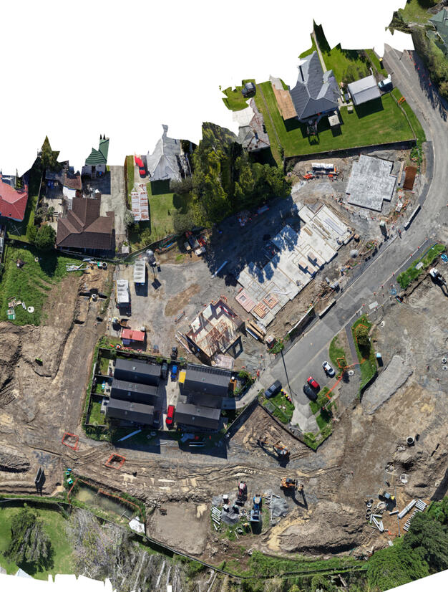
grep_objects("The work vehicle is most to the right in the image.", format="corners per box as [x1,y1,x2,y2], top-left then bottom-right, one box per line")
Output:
[427,266,448,287]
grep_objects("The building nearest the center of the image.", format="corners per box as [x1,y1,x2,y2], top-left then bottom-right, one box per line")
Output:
[185,300,244,358]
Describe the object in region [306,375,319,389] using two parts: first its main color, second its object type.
red vehicle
